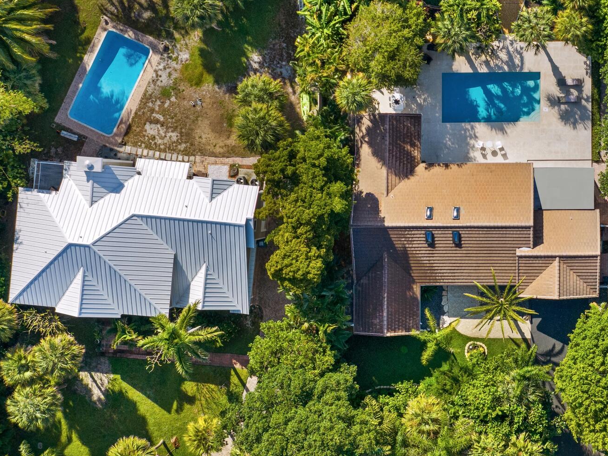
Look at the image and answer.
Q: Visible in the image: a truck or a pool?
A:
pool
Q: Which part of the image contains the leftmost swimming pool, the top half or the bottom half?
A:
top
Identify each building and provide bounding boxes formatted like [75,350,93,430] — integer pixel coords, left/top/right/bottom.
[8,155,267,318]
[351,114,601,337]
